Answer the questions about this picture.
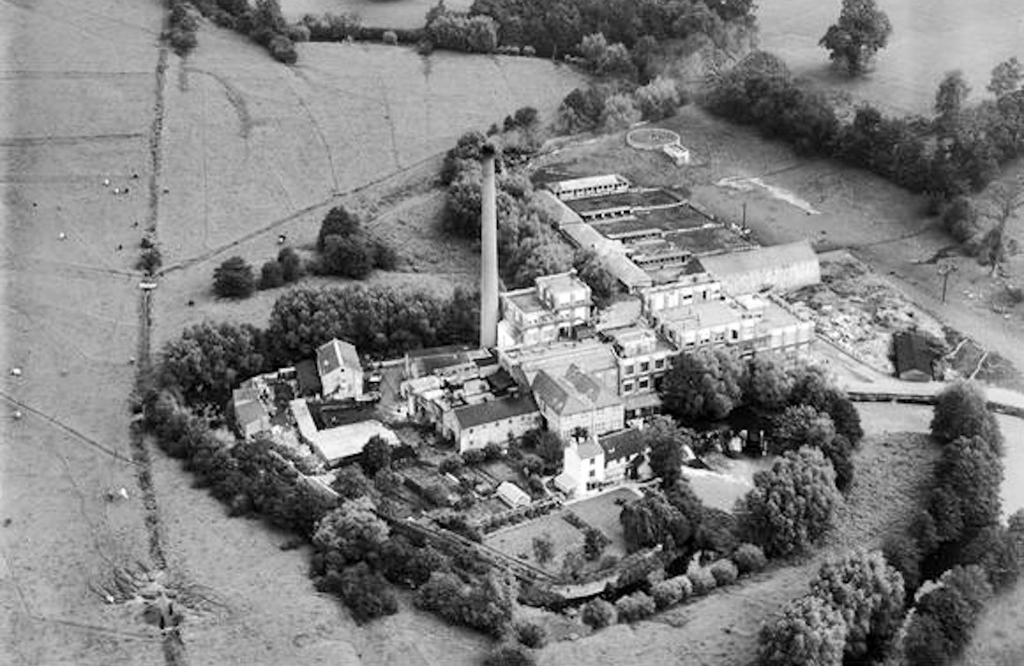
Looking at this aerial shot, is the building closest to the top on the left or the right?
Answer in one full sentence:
The building closest to the top sits on the right side.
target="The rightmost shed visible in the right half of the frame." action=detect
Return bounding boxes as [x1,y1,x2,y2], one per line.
[894,330,936,383]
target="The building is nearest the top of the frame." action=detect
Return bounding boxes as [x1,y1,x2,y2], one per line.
[666,145,689,165]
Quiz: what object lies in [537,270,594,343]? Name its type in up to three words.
building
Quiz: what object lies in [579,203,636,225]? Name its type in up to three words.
shed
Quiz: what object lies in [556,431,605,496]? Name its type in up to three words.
house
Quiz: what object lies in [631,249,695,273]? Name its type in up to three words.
shed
